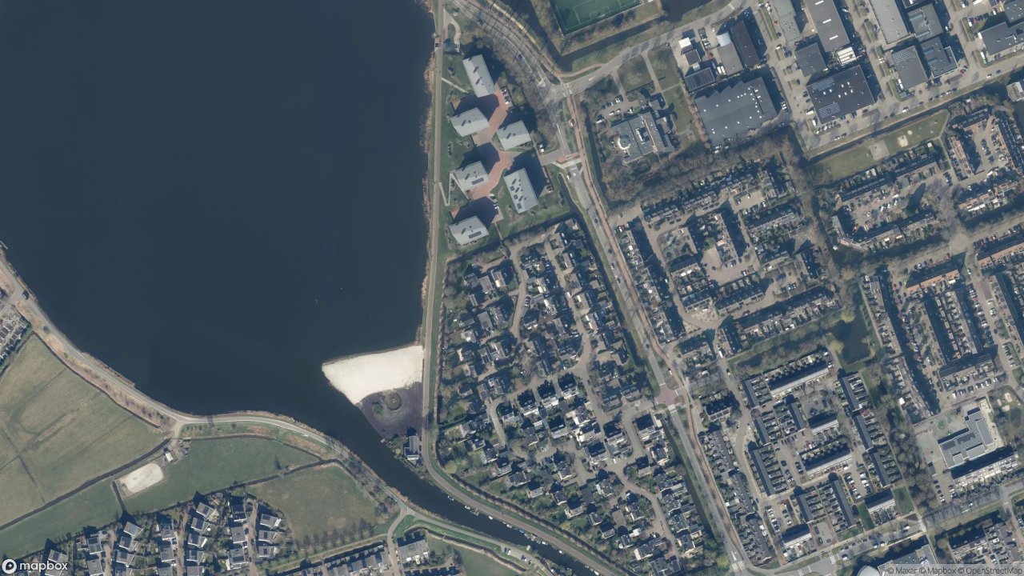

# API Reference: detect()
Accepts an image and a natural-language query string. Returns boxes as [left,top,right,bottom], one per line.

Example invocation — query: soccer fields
[550,0,643,36]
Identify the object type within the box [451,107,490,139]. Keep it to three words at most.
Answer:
building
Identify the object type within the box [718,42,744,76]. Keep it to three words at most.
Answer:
building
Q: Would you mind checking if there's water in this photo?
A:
Yes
